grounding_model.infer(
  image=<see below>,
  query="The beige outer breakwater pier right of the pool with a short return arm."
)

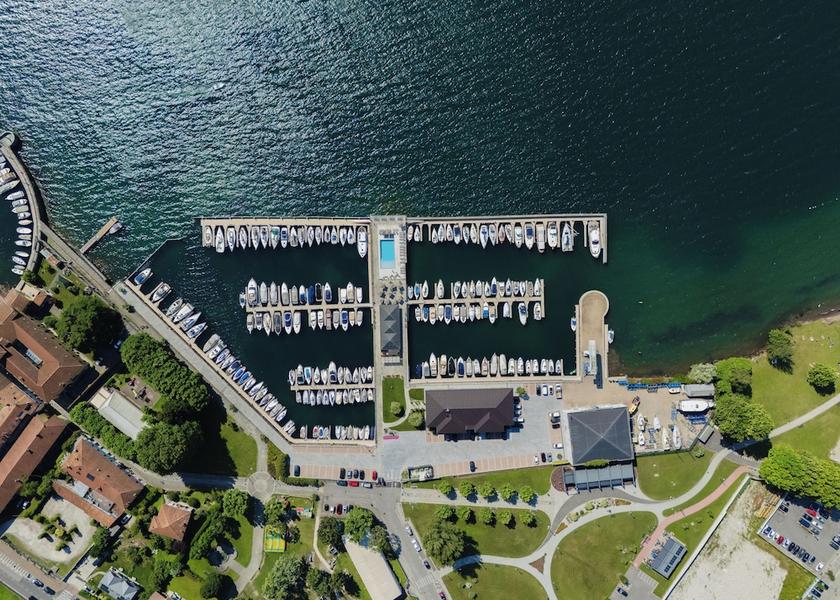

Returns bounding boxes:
[407,213,608,264]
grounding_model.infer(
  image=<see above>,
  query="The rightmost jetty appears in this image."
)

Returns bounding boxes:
[575,290,609,381]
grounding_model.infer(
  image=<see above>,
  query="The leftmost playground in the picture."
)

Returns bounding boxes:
[118,374,160,407]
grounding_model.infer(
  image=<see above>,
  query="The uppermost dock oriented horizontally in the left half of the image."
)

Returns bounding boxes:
[199,216,371,246]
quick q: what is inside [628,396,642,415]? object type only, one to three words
vehicle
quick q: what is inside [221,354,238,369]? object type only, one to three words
boat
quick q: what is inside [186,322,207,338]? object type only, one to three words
boat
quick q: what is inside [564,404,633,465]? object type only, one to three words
building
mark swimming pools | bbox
[378,237,395,269]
